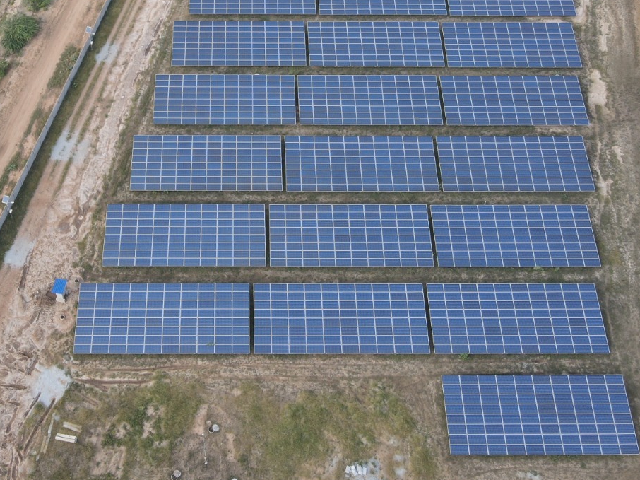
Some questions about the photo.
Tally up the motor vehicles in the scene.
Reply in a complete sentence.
I count no motor vehicles.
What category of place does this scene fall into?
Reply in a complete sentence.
What you see here is a solar farm.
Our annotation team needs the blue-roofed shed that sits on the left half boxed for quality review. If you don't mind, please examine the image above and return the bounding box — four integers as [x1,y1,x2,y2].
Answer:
[51,277,68,306]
